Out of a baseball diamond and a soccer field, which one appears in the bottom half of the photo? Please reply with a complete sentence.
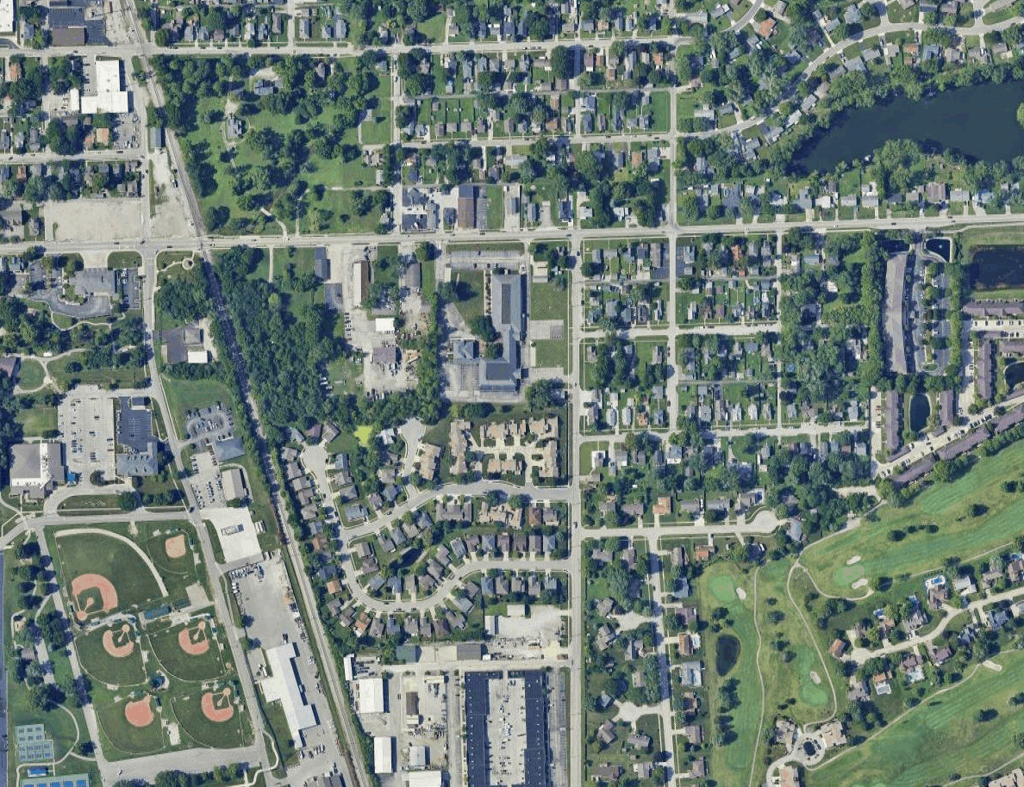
There is a baseball diamond in the bottom half of the photo.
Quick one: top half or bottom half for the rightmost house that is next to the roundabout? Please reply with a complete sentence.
It is in the bottom half that the rightmost house that is next to the roundabout appears.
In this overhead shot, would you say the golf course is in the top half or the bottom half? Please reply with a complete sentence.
The golf course sits in the bottom half of the picture.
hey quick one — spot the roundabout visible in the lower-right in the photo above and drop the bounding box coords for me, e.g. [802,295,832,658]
[790,731,827,769]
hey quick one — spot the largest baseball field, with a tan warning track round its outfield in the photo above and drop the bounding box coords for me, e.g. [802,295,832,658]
[55,529,168,630]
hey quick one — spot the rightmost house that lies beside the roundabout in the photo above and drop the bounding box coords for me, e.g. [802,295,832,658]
[819,718,850,749]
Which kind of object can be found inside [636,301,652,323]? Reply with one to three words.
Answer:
house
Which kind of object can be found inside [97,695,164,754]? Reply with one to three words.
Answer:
baseball field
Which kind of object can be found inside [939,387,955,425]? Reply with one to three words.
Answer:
building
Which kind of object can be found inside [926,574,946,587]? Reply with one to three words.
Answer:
swimming pool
